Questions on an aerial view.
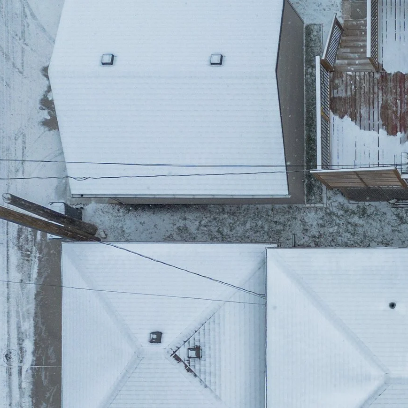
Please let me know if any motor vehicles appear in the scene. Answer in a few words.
No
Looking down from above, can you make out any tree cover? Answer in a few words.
No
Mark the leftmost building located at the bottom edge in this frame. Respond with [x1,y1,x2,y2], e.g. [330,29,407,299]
[65,246,277,408]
